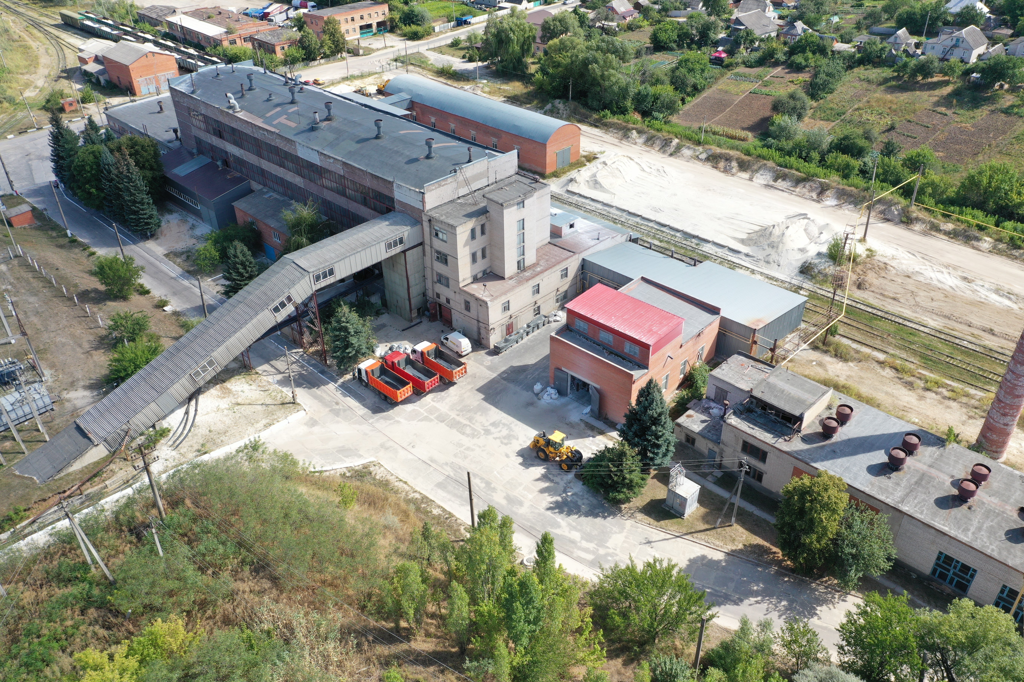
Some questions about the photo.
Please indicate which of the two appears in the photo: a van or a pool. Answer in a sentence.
This aerial view contains a van.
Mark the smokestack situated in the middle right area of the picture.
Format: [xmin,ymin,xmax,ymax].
[973,346,1024,470]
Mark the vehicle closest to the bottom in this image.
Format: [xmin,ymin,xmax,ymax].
[532,428,596,483]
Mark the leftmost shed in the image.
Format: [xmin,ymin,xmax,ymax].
[0,196,36,228]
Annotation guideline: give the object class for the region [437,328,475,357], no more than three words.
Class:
van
